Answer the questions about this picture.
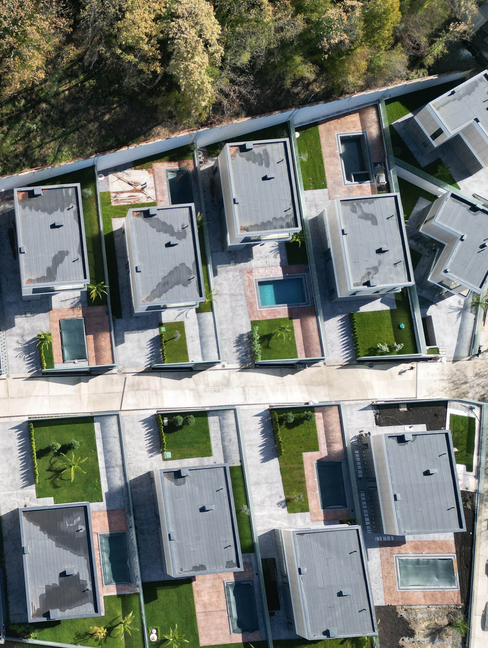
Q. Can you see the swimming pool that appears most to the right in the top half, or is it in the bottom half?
bottom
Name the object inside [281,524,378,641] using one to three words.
house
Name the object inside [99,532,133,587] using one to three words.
swimming pool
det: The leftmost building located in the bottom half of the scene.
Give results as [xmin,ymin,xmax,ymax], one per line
[19,502,101,623]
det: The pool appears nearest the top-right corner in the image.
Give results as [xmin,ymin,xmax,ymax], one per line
[335,131,375,187]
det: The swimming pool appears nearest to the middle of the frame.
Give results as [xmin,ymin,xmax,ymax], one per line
[253,273,313,308]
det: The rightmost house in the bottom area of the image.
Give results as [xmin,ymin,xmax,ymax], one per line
[369,430,467,535]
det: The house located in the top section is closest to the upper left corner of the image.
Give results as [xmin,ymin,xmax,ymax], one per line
[13,183,90,296]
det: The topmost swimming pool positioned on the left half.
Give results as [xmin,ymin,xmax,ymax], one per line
[166,165,195,206]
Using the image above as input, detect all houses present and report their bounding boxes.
[414,190,488,299]
[13,183,90,296]
[125,204,206,314]
[19,502,101,623]
[323,193,415,298]
[411,70,488,169]
[218,138,302,246]
[369,430,467,535]
[155,463,243,577]
[281,524,378,641]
